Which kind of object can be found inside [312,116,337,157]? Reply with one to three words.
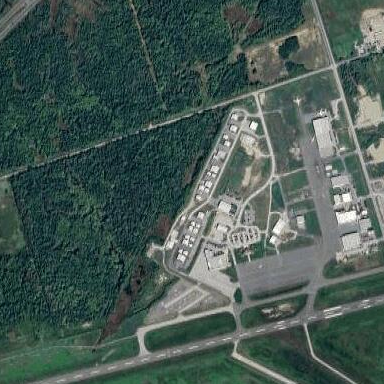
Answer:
hangar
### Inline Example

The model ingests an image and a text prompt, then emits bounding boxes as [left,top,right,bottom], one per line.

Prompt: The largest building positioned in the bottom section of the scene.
[206,248,229,269]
